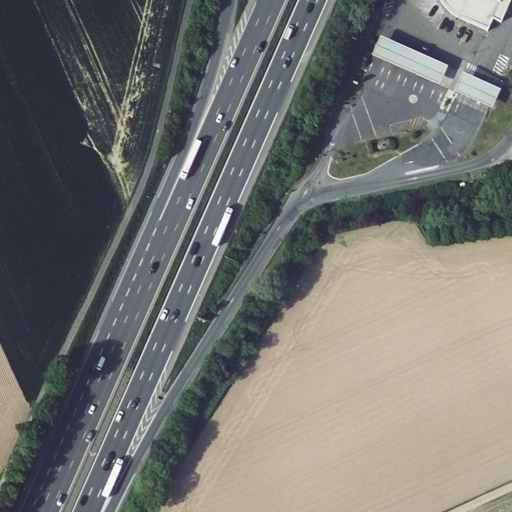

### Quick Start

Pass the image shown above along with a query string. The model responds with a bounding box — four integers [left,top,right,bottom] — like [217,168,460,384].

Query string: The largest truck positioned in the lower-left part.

[102,458,124,498]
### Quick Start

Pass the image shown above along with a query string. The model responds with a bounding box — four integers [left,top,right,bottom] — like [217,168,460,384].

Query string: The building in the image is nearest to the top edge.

[440,0,511,30]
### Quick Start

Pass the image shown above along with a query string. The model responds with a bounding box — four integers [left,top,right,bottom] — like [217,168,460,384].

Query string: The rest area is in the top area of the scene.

[318,0,512,180]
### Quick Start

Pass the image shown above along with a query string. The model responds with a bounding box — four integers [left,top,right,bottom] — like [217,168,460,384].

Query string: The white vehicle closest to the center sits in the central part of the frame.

[211,207,234,246]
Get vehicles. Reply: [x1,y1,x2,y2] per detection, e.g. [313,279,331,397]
[230,57,238,68]
[216,112,224,123]
[439,18,448,29]
[462,30,472,42]
[57,495,65,506]
[180,138,202,180]
[211,207,234,246]
[306,2,314,14]
[191,242,199,254]
[172,309,179,320]
[102,458,124,498]
[283,56,291,68]
[116,411,123,422]
[457,26,466,38]
[104,459,112,471]
[150,262,158,274]
[186,198,194,209]
[445,20,454,32]
[284,24,295,40]
[86,431,94,442]
[194,256,202,268]
[258,41,266,52]
[224,120,231,130]
[80,494,88,506]
[429,5,438,16]
[132,398,140,409]
[160,310,168,320]
[96,356,106,371]
[88,404,96,415]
